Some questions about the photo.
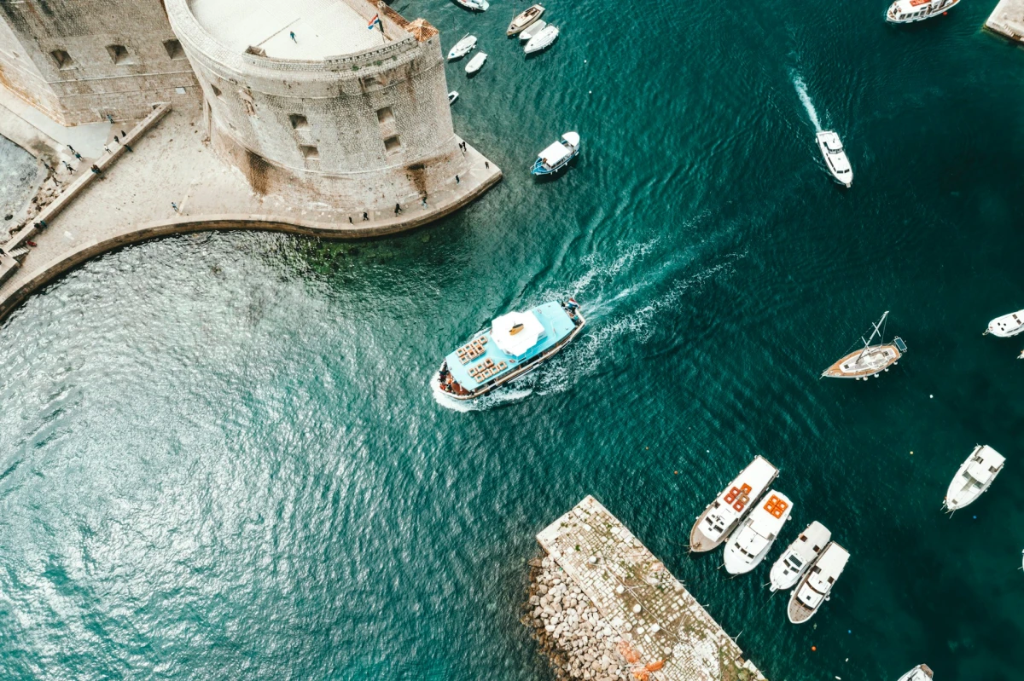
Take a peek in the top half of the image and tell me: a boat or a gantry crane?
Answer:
boat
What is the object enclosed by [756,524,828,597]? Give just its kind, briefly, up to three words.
boat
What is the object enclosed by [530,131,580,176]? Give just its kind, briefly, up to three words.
boat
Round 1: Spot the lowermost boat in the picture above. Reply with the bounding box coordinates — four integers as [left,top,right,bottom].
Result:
[893,658,934,681]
